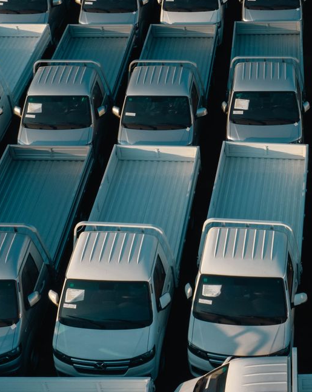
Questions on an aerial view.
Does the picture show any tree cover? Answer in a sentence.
No, tree cover can't be seen anywhere here.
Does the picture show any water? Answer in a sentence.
No, no water is visible.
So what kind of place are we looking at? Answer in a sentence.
What you see here is a parking lot.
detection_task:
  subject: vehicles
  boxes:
[0,0,69,49]
[179,352,312,392]
[113,28,215,152]
[77,0,152,48]
[0,150,98,379]
[219,24,312,149]
[16,28,135,169]
[0,27,49,162]
[238,0,310,24]
[155,0,230,47]
[181,147,308,381]
[49,149,202,385]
